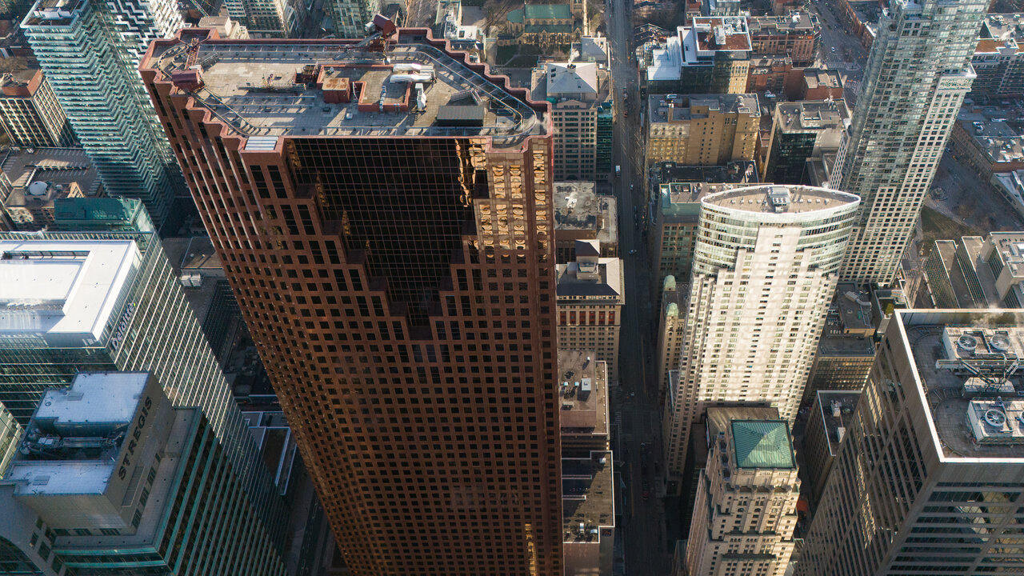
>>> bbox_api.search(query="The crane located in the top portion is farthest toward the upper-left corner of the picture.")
[168,39,206,94]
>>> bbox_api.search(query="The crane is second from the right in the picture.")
[327,16,400,56]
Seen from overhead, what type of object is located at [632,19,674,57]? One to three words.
building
